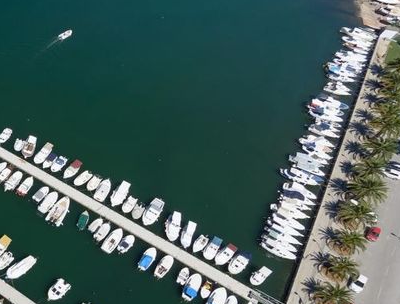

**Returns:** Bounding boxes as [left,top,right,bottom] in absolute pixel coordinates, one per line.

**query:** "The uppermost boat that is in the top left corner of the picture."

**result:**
[55,29,72,42]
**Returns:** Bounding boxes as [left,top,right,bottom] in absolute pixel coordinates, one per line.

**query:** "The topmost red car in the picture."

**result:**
[366,224,380,242]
